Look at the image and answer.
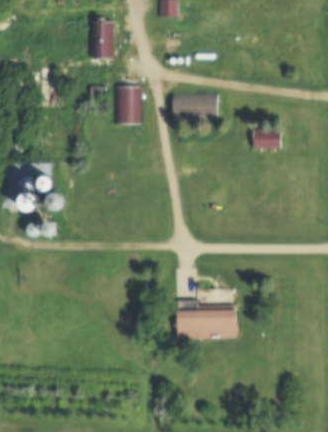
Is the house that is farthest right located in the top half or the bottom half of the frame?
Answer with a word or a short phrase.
top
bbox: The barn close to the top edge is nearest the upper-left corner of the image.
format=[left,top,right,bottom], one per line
[92,15,114,58]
